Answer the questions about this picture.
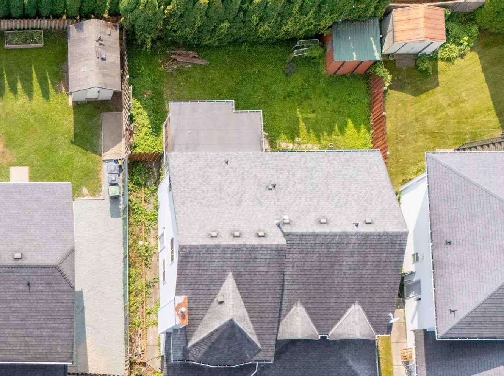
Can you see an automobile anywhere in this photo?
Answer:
No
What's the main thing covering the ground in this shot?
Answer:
buildings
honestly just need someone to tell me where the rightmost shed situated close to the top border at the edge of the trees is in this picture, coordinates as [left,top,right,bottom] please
[381,6,445,54]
